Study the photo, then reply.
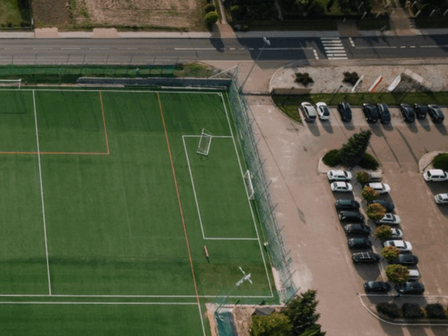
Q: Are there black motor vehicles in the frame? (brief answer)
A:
Yes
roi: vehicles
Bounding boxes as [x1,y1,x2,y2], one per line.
[377,213,402,226]
[427,105,445,125]
[346,237,372,249]
[380,200,397,212]
[364,181,391,194]
[376,104,392,125]
[361,104,379,124]
[392,228,406,239]
[350,251,380,264]
[363,280,390,293]
[344,224,370,235]
[315,103,331,121]
[399,104,416,124]
[394,255,420,265]
[329,181,353,193]
[325,169,352,181]
[383,240,412,253]
[412,103,428,122]
[301,104,316,122]
[393,282,424,294]
[422,169,448,181]
[364,171,387,182]
[338,210,364,223]
[434,193,448,205]
[337,104,353,122]
[333,199,360,211]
